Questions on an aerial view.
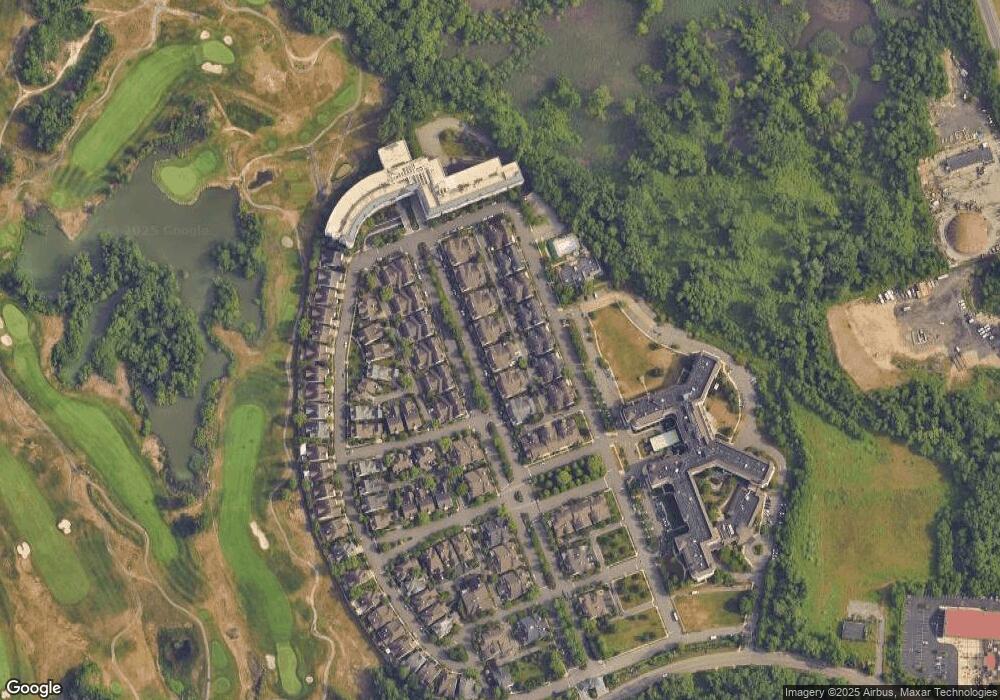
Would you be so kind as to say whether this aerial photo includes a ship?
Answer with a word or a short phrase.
No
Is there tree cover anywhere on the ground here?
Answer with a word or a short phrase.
Yes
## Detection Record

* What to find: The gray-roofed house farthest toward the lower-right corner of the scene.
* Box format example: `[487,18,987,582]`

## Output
[843,623,866,641]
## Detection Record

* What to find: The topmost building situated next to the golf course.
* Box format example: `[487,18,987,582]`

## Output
[325,141,524,251]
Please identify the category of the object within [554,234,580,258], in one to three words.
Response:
building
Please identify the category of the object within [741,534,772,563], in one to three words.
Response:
roundabout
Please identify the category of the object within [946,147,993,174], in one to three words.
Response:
shed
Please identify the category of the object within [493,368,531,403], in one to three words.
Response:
house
